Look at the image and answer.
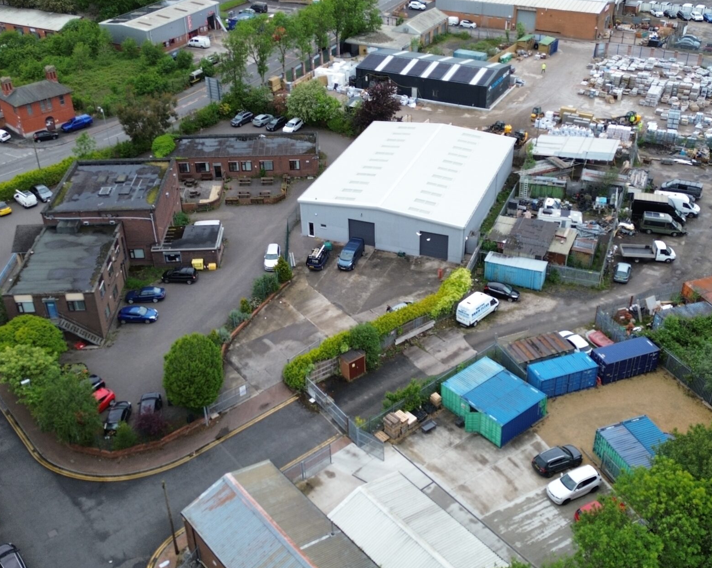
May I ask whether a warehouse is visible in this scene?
Yes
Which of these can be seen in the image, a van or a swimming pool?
van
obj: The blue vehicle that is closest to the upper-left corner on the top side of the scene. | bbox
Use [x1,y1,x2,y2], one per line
[60,112,93,132]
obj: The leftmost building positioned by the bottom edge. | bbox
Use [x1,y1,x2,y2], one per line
[174,456,396,568]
